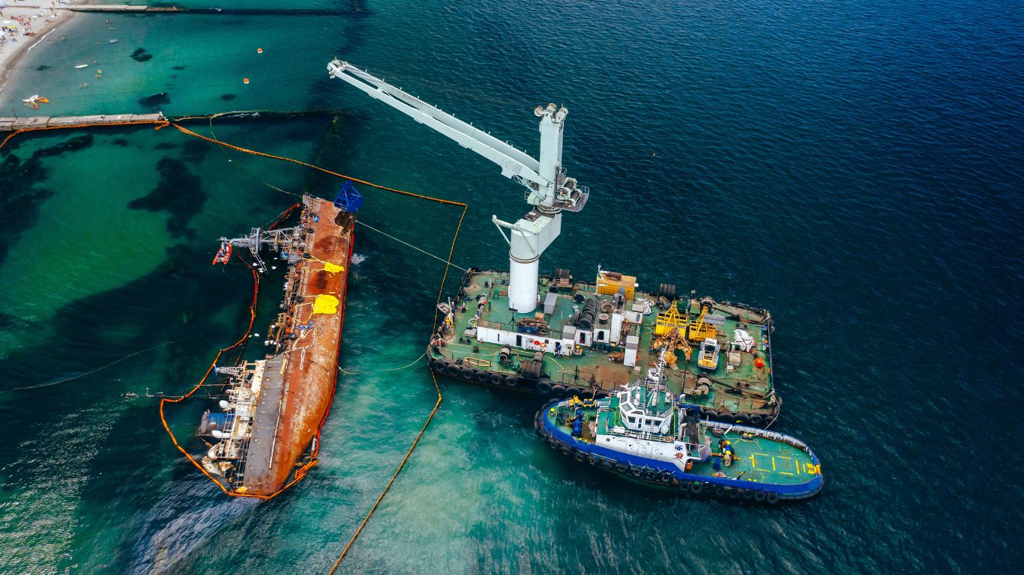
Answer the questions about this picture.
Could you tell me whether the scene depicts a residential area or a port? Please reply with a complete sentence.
This image shows a port.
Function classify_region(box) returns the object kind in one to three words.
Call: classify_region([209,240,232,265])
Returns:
boat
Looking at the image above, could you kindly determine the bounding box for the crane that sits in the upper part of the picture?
[325,58,592,312]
